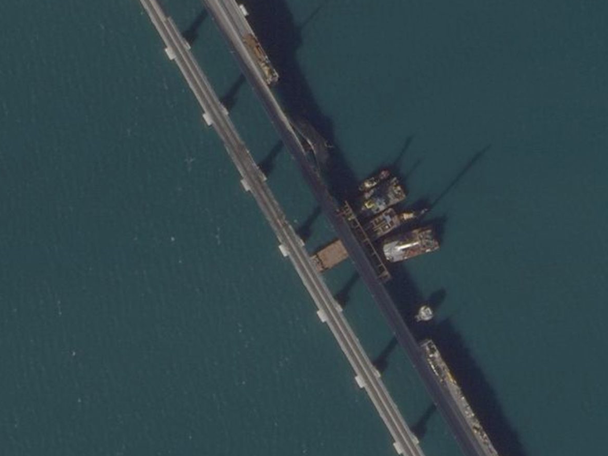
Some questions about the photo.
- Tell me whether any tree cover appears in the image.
No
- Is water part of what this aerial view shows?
Yes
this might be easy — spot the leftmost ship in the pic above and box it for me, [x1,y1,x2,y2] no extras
[311,239,348,272]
